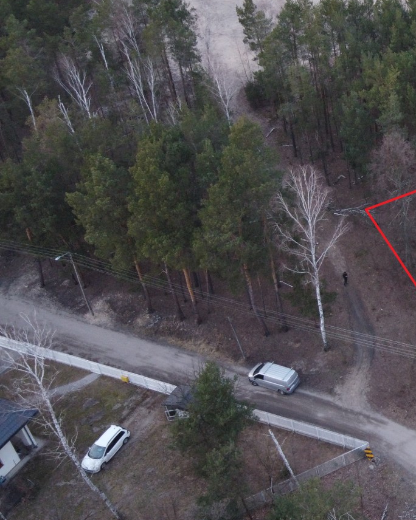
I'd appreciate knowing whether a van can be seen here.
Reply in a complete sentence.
Yes, a van can be made out from above.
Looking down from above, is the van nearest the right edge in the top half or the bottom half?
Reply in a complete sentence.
The bottom half of the photo is where the van nearest the right edge is.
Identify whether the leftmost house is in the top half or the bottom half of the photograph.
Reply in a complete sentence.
The leftmost house sits in the bottom half of the picture.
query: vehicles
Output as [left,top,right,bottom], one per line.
[81,423,129,469]
[244,367,299,401]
